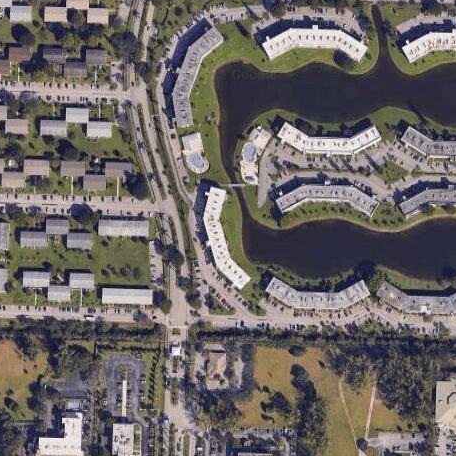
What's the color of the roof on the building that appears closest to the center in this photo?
white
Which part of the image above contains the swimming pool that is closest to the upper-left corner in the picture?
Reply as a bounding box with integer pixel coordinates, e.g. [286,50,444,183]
[183,150,209,175]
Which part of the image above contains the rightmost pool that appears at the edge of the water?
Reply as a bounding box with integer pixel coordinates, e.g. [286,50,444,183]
[240,142,265,184]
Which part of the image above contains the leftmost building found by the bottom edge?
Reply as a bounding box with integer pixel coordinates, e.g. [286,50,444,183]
[36,412,83,456]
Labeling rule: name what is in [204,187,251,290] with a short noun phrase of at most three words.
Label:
building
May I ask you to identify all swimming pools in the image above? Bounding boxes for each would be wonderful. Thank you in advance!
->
[183,150,209,175]
[240,142,265,184]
